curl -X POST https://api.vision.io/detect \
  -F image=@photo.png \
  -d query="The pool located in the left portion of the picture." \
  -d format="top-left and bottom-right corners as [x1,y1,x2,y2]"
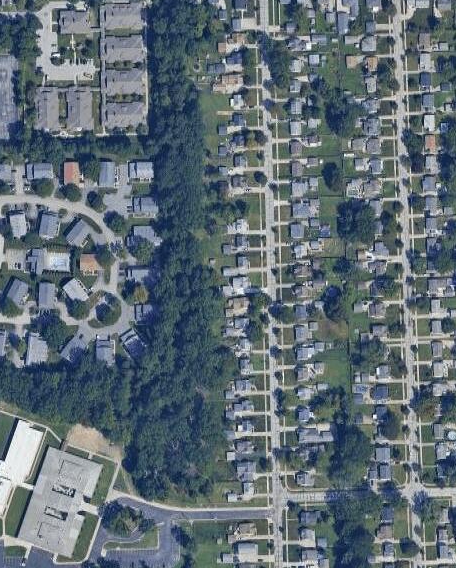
[44,249,69,272]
